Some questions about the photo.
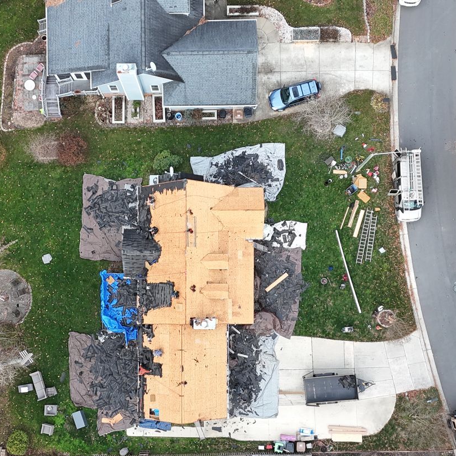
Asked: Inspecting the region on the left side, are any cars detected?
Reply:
No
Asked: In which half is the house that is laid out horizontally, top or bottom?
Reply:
top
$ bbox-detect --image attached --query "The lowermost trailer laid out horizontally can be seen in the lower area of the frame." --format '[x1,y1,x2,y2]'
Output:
[309,371,377,405]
